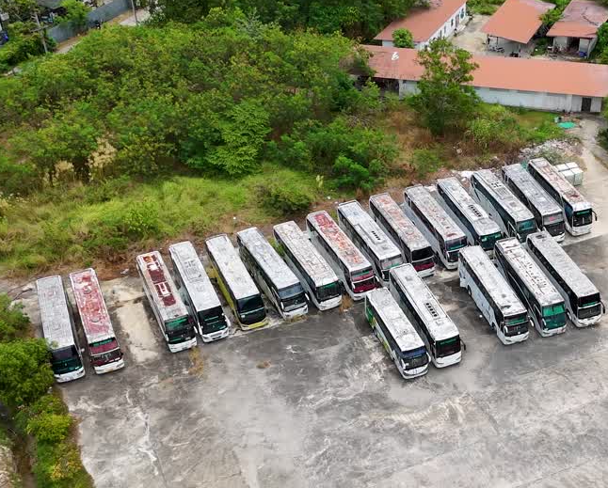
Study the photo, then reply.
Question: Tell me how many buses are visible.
20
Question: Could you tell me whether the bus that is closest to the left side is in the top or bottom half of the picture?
bottom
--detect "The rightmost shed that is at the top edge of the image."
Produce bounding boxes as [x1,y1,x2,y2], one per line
[547,0,608,51]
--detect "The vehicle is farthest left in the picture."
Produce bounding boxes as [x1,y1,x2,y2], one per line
[38,276,82,380]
